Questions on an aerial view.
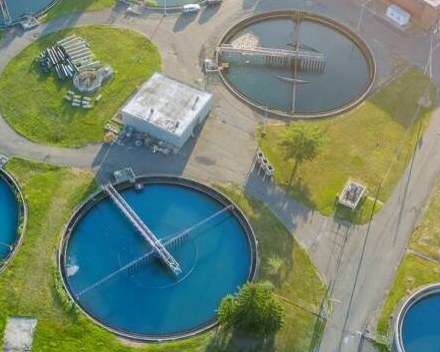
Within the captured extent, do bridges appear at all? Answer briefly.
Yes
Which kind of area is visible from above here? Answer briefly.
industrial area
